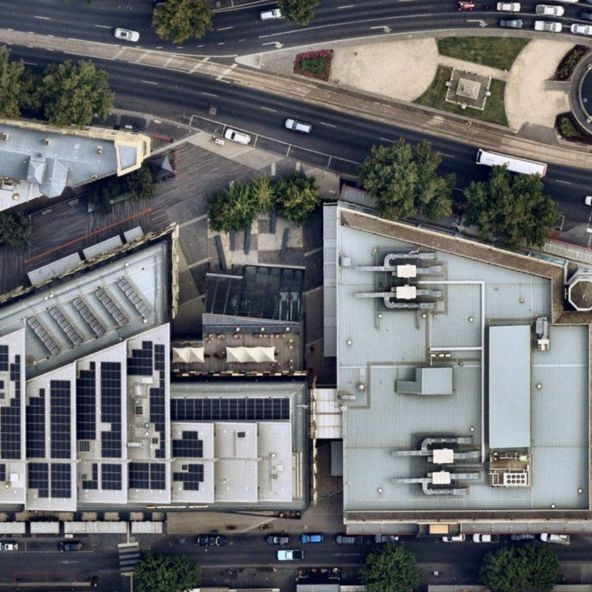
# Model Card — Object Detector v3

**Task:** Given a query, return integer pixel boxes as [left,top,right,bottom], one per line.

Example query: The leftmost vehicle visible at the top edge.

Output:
[115,28,140,41]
